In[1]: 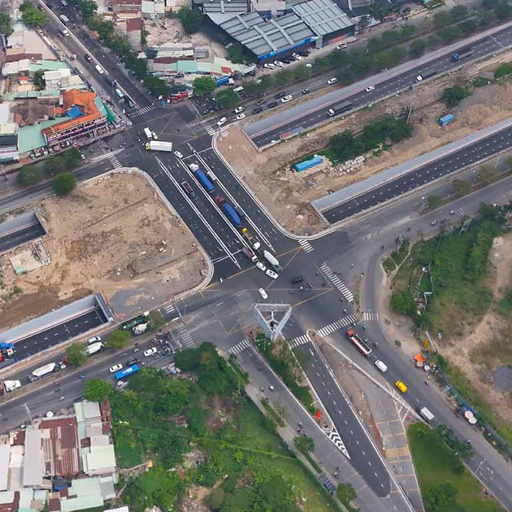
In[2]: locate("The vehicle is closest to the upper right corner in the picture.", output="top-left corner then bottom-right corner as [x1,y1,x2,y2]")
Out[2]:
[452,49,474,62]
